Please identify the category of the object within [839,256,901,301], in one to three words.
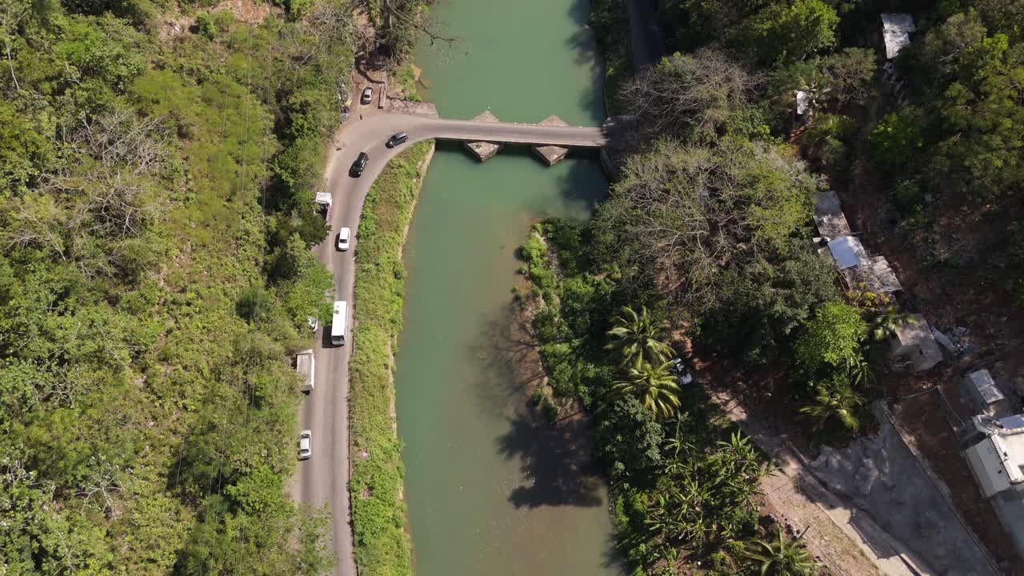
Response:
shed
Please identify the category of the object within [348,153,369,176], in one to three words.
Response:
car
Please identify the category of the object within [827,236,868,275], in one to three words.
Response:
shed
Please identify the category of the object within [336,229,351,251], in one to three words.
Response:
car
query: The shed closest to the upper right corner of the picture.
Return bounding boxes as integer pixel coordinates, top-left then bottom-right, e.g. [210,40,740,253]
[875,13,915,71]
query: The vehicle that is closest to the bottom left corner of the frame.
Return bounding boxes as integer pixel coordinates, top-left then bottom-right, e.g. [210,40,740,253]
[297,430,313,460]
